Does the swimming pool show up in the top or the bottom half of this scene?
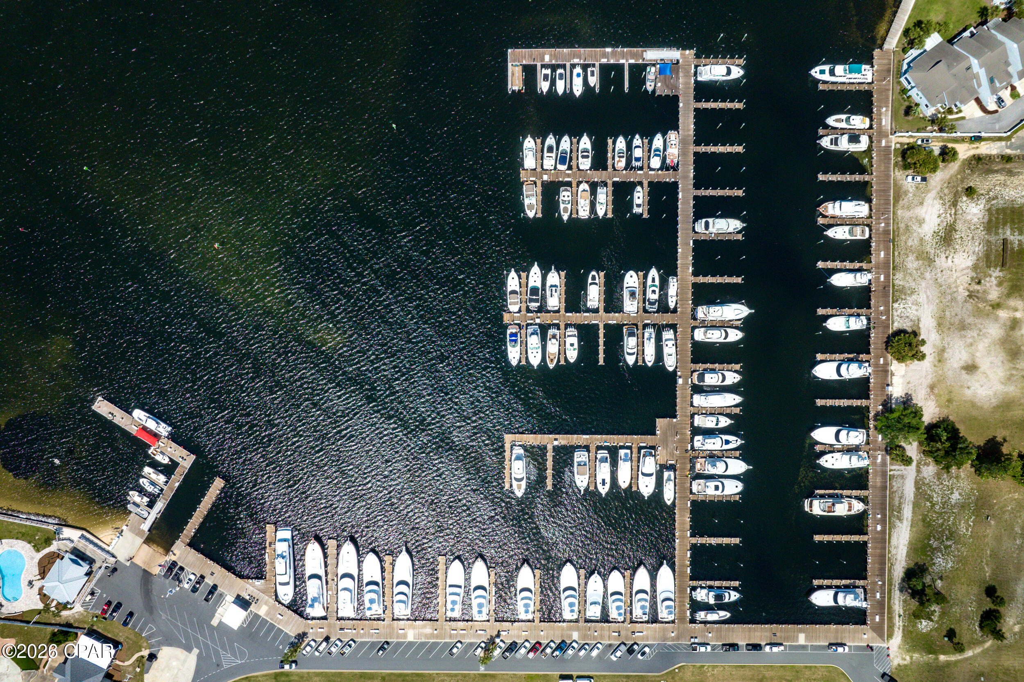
bottom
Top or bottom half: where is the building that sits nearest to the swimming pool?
bottom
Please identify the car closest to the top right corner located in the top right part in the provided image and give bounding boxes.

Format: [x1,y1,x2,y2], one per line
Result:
[993,94,1005,109]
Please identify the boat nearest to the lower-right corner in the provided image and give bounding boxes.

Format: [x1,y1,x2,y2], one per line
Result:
[809,588,887,616]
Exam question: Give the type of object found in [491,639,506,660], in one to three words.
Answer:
vehicle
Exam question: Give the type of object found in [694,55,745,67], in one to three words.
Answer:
pier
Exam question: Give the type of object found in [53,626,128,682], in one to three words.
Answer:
house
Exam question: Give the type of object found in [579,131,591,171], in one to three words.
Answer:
boat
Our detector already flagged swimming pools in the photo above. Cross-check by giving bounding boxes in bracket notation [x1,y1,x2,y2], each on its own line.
[0,548,26,603]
